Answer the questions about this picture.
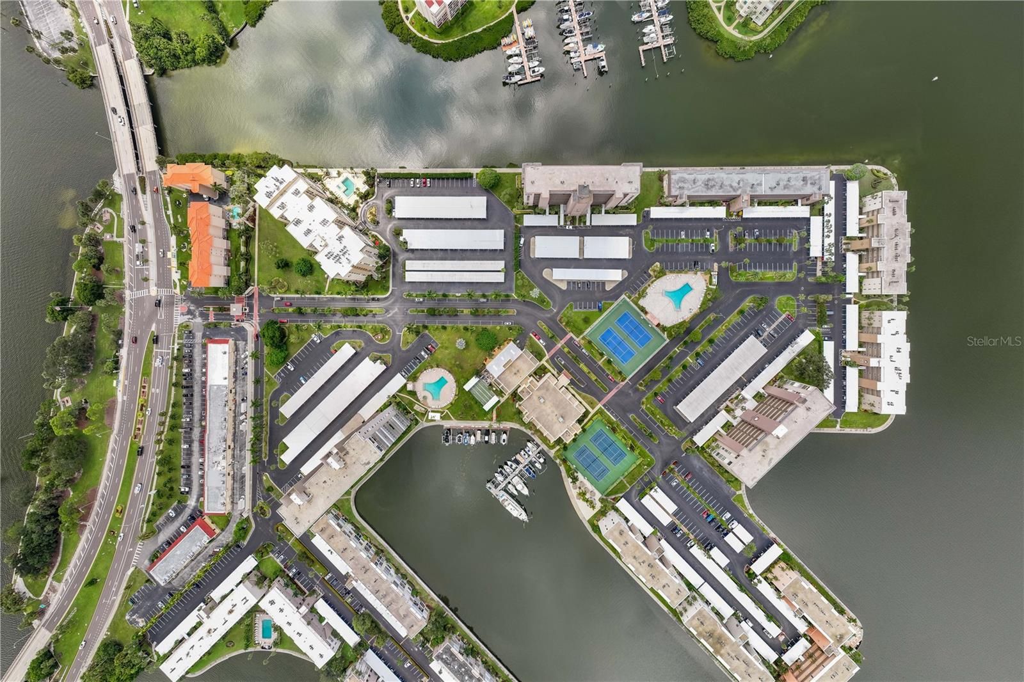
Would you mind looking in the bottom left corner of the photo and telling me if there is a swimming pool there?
Yes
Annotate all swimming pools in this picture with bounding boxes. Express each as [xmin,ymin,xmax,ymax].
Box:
[640,272,707,325]
[254,612,280,645]
[416,367,456,408]
[325,172,368,204]
[225,205,243,223]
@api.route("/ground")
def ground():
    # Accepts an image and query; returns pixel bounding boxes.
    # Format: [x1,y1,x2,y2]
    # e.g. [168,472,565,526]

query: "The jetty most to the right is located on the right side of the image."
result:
[639,0,674,66]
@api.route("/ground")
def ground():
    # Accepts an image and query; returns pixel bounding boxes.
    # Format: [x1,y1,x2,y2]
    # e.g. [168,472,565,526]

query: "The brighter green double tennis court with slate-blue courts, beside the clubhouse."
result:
[563,419,638,494]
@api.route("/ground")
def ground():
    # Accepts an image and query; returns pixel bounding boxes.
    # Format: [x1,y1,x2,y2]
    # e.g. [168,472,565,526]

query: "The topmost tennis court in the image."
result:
[584,298,667,377]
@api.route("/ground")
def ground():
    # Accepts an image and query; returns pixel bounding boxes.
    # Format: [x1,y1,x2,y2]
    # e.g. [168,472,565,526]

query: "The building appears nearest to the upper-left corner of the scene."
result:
[163,162,226,193]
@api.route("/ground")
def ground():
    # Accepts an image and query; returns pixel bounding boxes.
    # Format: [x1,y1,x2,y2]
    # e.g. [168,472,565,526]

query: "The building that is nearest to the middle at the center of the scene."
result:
[487,341,539,396]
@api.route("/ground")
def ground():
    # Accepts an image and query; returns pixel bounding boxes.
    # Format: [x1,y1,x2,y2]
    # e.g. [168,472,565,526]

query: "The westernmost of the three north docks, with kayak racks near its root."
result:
[513,7,541,85]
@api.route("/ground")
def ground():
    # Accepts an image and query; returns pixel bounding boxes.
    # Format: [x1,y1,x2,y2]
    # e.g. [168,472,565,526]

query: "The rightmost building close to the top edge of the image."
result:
[728,0,781,38]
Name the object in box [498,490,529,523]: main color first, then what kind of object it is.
white boat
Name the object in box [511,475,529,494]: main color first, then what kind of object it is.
white boat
